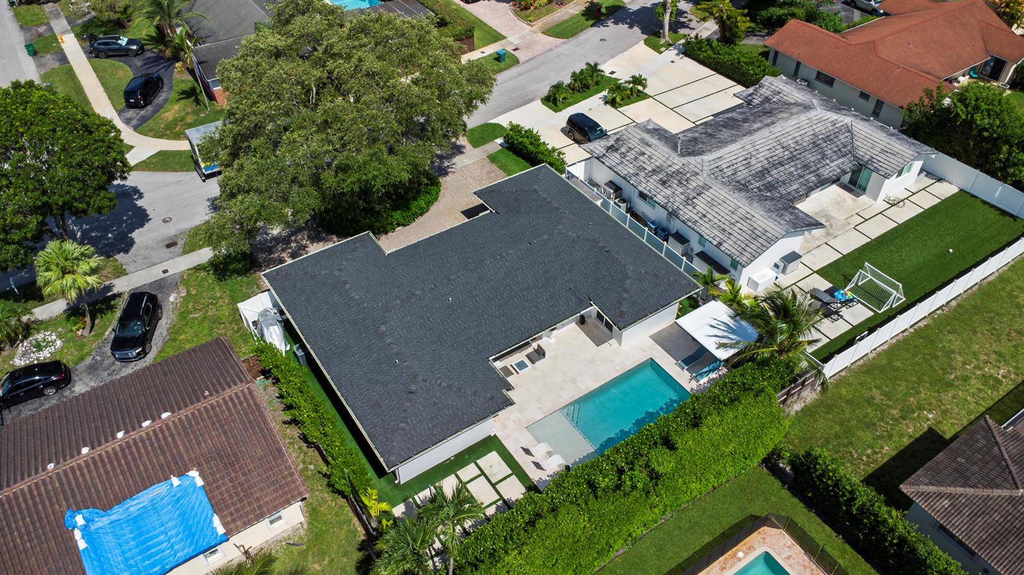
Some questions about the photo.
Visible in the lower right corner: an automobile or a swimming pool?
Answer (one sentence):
You can see a swimming pool in the lower right corner.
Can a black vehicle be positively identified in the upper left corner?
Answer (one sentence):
Yes, the scene does show a black vehicle in the upper left corner.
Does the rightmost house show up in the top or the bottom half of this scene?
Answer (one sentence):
The rightmost house is in the bottom half of the image.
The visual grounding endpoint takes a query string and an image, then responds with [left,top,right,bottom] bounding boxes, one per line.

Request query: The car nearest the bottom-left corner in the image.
[0,357,68,410]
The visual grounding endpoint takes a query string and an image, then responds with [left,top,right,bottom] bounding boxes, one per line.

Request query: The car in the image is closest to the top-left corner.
[77,30,144,57]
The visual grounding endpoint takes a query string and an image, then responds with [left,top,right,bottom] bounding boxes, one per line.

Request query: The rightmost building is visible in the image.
[897,409,1024,575]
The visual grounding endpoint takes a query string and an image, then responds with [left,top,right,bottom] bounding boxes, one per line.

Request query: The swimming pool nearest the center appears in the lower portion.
[517,351,696,483]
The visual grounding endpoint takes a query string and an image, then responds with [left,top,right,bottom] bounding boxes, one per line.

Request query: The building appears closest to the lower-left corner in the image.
[0,335,313,575]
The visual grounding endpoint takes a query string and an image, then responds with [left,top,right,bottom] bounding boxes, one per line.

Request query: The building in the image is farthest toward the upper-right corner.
[759,0,1024,130]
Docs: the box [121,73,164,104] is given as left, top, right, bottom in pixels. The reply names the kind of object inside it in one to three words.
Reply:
car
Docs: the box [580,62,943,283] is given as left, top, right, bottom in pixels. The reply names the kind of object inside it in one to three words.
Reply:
house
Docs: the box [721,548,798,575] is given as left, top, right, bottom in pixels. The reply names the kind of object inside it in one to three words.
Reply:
swimming pool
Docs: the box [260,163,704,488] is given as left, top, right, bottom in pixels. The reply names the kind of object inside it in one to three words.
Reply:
house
